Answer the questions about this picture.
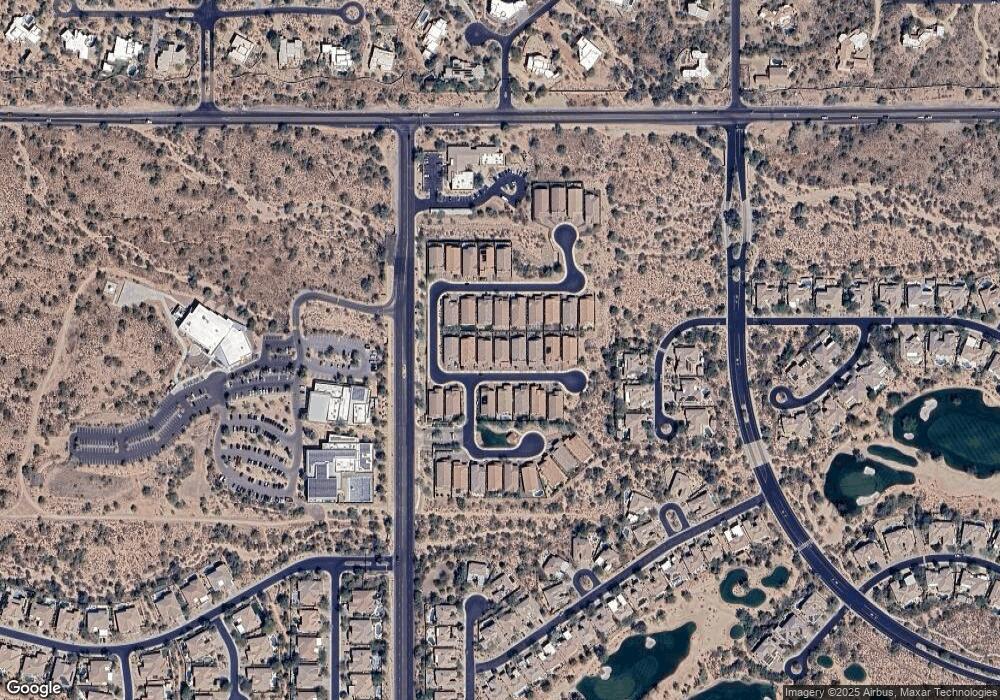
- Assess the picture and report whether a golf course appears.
Yes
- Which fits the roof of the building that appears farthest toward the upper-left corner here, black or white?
white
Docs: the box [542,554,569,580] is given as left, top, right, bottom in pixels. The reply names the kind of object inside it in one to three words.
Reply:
house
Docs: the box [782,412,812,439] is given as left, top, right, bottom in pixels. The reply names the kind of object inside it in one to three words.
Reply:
house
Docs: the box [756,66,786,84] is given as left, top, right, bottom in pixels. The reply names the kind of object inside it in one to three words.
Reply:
building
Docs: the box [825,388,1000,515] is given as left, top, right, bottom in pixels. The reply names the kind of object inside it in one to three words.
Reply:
golf course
